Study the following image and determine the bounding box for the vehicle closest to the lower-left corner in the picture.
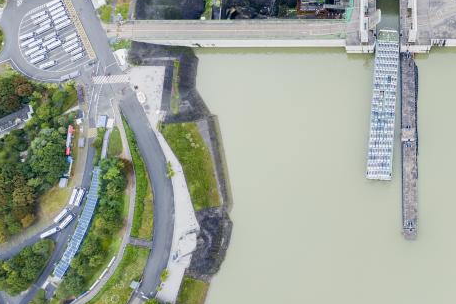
[41,225,59,239]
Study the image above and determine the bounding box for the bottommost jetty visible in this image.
[402,54,417,240]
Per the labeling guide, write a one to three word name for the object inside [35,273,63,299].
house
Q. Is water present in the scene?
Yes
